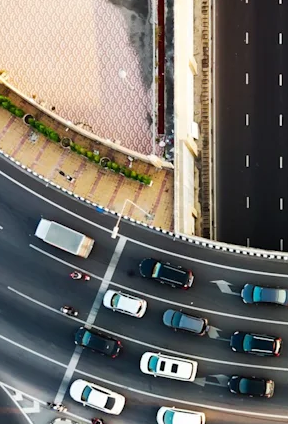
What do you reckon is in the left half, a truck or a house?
truck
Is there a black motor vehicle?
Yes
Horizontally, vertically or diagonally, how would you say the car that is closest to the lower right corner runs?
horizontally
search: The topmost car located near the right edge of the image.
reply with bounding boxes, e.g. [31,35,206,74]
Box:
[241,282,288,308]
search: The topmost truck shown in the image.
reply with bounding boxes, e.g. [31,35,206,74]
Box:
[33,216,98,262]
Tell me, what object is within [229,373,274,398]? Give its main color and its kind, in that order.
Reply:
black car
